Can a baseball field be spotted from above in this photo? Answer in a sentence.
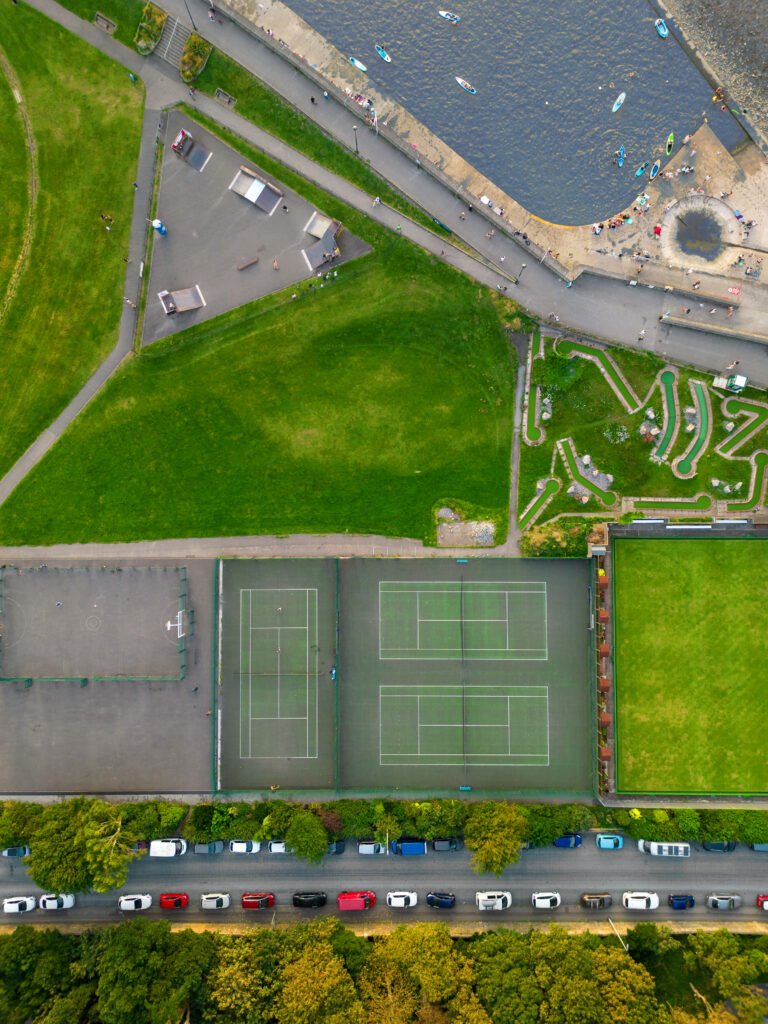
No, the frame has no baseball field in it.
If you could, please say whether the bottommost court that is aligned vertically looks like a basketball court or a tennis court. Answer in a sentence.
Specifically, the bottommost court that is aligned vertically is a tennis court.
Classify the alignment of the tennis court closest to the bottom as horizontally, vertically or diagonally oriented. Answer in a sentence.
The tennis court closest to the bottom has been laid out horizontally relative to the frame.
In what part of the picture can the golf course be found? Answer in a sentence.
The golf course sits in the right section of the image.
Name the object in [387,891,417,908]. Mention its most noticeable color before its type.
white car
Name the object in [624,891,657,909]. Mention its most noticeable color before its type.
white car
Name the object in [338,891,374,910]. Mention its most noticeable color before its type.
red vehicle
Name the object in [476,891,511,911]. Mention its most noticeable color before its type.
white vehicle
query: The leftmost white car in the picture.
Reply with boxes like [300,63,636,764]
[3,895,35,913]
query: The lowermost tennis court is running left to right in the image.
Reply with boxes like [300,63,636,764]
[378,686,548,765]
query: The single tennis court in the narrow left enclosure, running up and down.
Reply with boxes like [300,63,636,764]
[240,589,318,758]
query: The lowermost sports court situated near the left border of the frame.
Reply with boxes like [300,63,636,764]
[4,570,186,676]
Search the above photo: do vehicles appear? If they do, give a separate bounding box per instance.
[426,891,455,909]
[1,842,28,860]
[431,835,467,854]
[338,891,374,910]
[554,836,583,851]
[149,838,187,856]
[268,838,293,855]
[320,839,349,856]
[595,833,625,850]
[706,892,741,910]
[702,836,736,853]
[667,893,695,910]
[3,895,35,913]
[41,892,76,910]
[637,841,691,860]
[242,892,276,910]
[387,891,417,908]
[293,891,326,909]
[230,838,260,855]
[357,839,386,856]
[391,837,427,856]
[160,893,188,909]
[579,893,613,911]
[193,840,224,856]
[624,891,657,909]
[531,891,560,909]
[749,839,768,854]
[202,893,229,910]
[476,891,511,911]
[120,893,151,911]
